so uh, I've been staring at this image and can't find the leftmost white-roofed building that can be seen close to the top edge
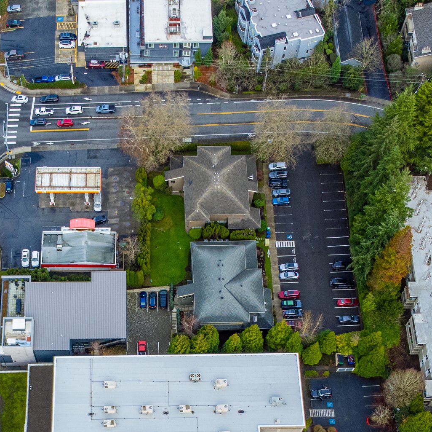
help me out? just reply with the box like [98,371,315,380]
[77,0,128,63]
